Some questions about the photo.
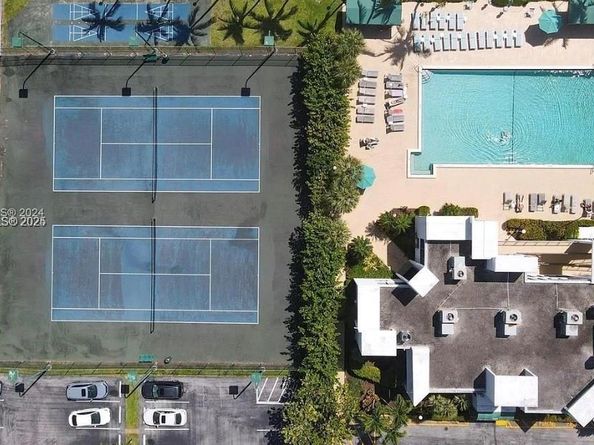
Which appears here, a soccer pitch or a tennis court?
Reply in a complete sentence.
There is a tennis court in the scene.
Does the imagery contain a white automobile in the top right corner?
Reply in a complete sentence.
No, in the top right corner there is no white automobile.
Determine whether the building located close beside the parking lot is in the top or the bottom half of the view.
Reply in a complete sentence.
It is in the bottom half that the building located close beside the parking lot appears.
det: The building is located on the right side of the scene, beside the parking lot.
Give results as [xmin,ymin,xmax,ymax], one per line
[354,217,594,427]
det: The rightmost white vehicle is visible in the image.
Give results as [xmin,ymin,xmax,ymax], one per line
[144,407,187,428]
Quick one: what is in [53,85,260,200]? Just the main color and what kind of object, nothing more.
blue tennis court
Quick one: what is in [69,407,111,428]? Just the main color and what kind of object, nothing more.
white car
